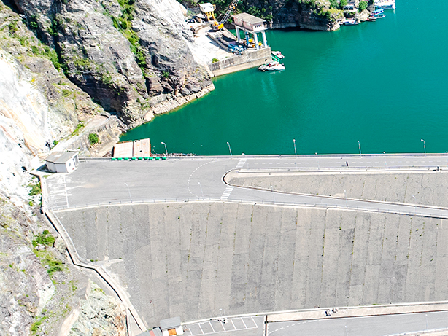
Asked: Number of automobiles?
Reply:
0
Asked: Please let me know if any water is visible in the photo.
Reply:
Yes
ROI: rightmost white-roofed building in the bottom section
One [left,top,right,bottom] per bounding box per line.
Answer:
[158,313,182,336]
